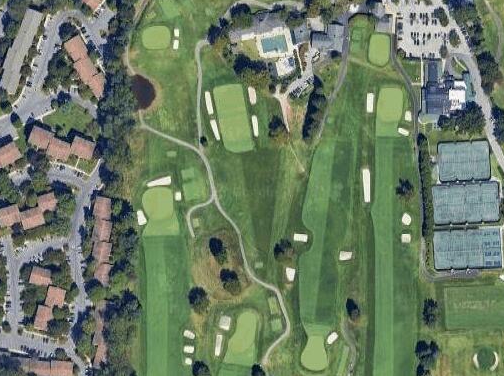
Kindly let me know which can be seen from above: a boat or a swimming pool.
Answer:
swimming pool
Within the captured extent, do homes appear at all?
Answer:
Yes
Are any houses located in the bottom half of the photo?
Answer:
Yes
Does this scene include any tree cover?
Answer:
Yes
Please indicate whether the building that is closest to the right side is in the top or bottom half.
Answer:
top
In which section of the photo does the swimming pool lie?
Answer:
top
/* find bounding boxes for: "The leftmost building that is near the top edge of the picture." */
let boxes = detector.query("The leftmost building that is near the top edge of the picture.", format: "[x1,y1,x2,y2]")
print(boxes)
[0,7,43,94]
